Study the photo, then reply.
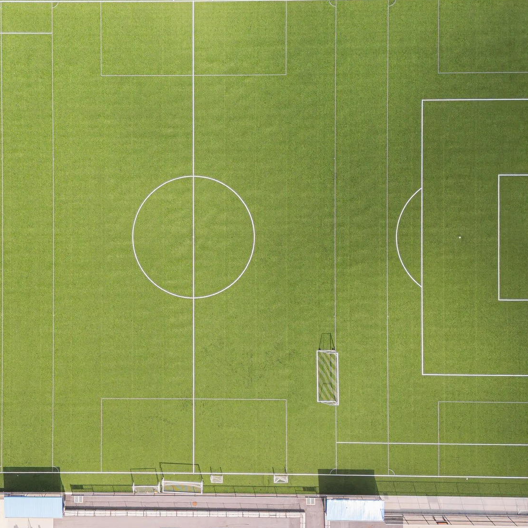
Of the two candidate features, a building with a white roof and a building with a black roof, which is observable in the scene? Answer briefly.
building with a white roof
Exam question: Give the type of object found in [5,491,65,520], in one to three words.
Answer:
building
